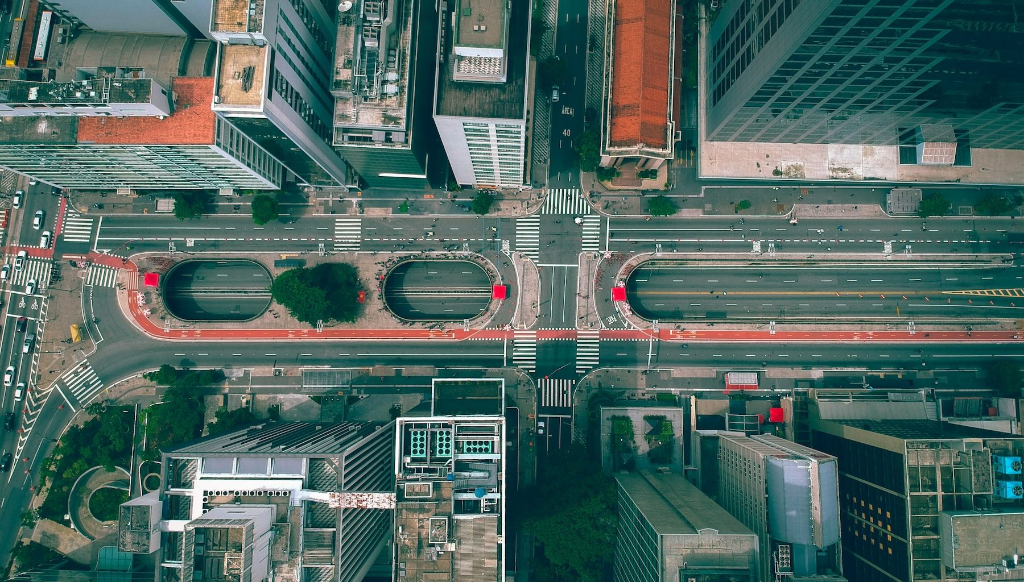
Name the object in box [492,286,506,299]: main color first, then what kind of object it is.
red gazebo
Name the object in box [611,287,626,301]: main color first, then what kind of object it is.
red gazebo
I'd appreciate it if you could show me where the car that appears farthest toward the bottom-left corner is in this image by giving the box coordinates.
[1,448,18,477]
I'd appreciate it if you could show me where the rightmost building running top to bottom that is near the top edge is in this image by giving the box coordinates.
[596,0,677,189]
